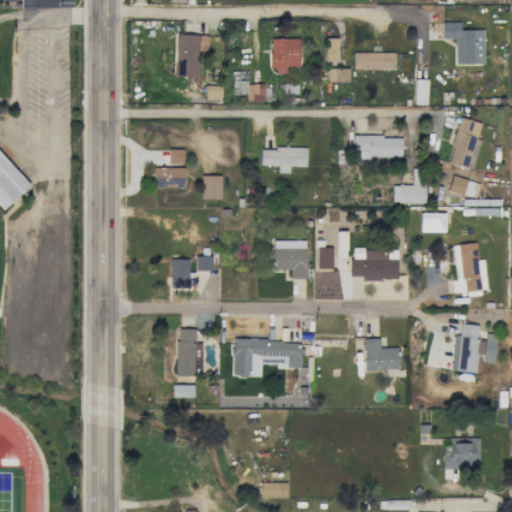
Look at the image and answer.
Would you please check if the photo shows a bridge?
Yes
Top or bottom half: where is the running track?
bottom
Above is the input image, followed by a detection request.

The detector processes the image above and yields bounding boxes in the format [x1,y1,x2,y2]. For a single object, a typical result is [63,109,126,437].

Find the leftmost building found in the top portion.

[0,148,32,208]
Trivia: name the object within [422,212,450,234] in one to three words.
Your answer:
house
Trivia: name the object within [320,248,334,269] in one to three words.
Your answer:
shed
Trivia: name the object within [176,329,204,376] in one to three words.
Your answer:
house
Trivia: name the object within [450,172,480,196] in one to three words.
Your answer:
barn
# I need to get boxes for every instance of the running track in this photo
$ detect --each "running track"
[0,404,49,512]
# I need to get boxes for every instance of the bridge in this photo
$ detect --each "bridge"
[82,385,124,430]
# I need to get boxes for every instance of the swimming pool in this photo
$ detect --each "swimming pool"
[374,390,388,403]
[206,342,216,368]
